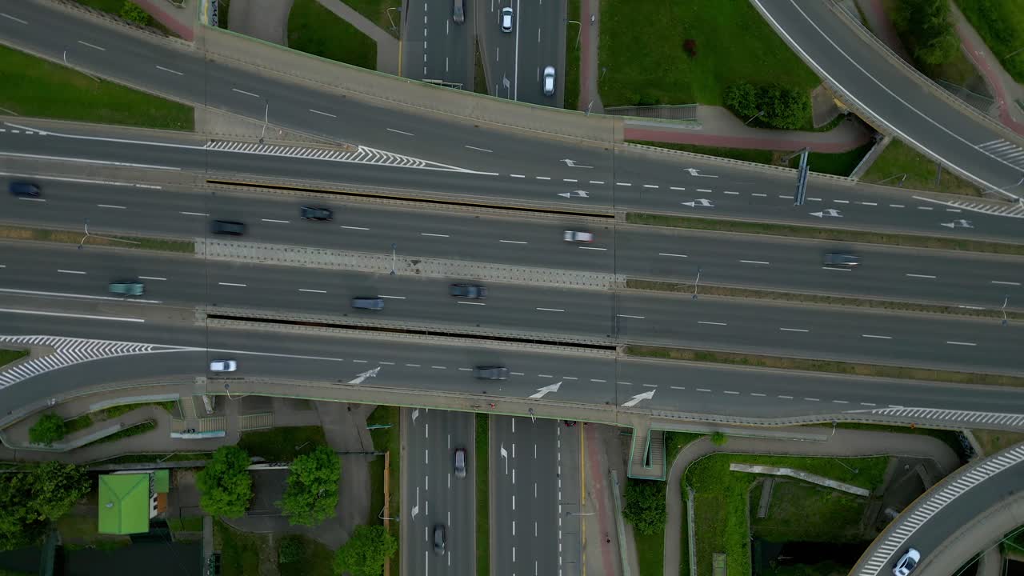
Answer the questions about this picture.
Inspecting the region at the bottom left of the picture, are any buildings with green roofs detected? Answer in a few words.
Yes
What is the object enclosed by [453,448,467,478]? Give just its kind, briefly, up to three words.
car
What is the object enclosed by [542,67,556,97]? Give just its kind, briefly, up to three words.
car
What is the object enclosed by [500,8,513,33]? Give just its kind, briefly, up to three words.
vehicle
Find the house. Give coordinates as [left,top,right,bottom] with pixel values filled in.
[98,469,174,535]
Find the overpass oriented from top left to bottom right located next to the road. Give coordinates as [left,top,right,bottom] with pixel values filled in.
[746,0,1024,214]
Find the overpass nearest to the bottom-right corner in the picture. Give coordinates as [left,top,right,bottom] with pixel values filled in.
[844,438,1024,576]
